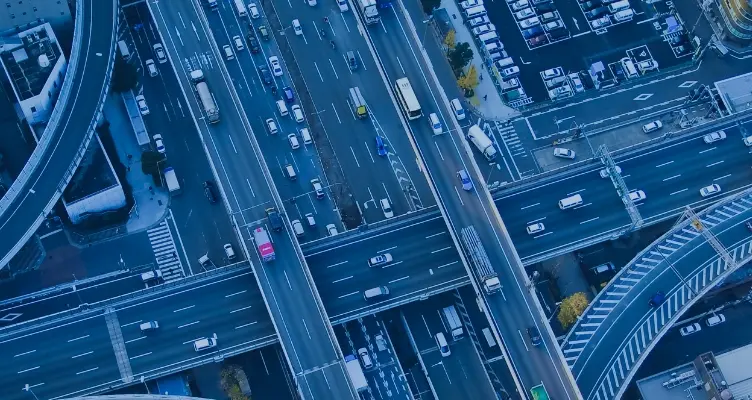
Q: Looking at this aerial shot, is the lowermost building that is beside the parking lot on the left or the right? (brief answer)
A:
right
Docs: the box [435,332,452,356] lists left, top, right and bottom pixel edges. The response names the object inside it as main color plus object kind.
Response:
blue vehicle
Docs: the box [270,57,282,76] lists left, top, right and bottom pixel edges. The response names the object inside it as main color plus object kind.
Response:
blue vehicle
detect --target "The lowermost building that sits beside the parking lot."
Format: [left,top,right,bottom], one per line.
[704,71,752,119]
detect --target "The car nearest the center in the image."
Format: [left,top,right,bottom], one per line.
[380,197,394,217]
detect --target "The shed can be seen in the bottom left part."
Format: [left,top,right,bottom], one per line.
[157,371,195,396]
